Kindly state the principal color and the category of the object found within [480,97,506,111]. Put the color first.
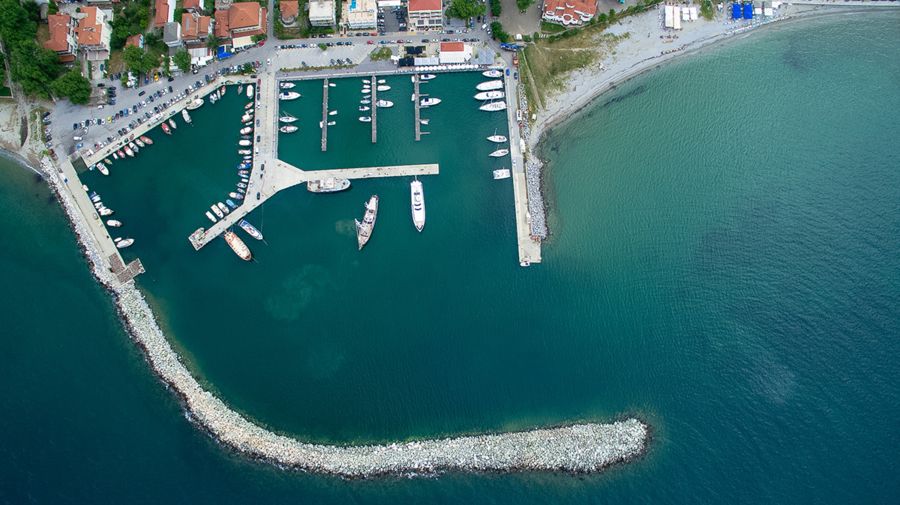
white boat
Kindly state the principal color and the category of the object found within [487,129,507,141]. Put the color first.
white boat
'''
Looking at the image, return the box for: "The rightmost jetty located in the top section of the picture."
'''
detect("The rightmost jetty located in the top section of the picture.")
[503,66,541,264]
